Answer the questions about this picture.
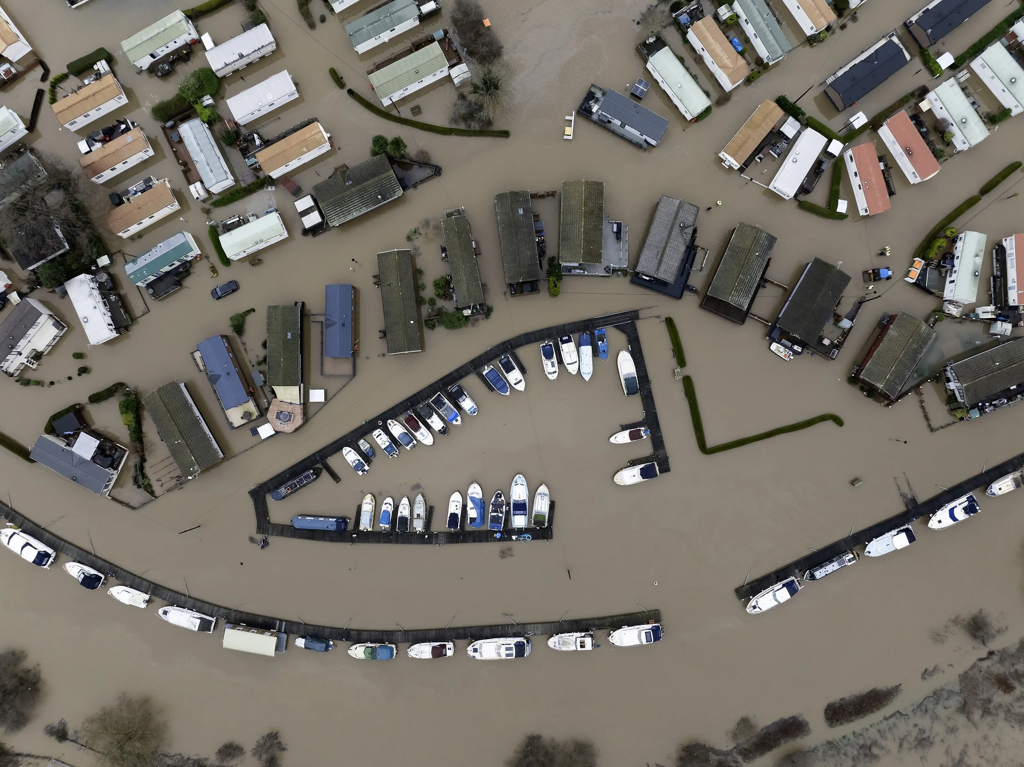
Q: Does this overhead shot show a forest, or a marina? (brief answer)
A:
marina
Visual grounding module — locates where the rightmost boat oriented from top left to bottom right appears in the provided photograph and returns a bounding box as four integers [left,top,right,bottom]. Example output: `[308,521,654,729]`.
[771,343,794,361]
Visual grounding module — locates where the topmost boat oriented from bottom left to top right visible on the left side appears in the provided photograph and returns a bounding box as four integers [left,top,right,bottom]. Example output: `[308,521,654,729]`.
[271,466,324,500]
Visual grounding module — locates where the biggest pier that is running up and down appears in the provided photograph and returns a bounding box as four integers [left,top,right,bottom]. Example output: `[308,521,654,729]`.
[625,326,671,472]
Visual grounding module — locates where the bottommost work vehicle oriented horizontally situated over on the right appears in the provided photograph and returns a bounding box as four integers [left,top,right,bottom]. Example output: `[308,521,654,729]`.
[859,265,895,283]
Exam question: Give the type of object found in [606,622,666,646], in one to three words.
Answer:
boat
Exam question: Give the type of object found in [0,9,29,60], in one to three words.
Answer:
camper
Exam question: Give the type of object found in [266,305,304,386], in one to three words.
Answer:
building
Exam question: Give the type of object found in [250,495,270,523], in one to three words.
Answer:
pier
